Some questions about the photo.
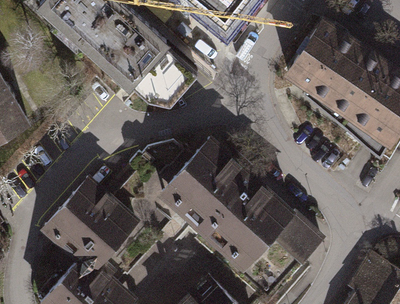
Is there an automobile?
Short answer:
Yes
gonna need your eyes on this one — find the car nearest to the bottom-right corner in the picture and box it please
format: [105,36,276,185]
[360,162,378,188]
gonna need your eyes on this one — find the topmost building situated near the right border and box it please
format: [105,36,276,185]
[284,17,400,150]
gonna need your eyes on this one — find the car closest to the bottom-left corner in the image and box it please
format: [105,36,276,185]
[9,176,28,198]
